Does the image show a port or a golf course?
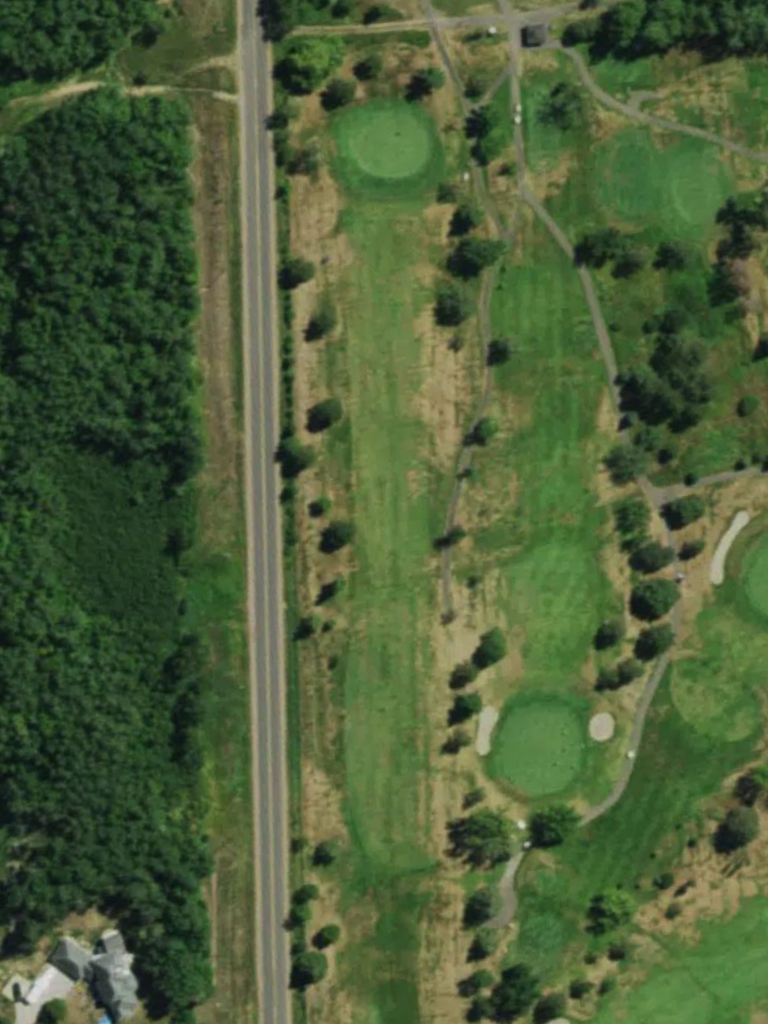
golf course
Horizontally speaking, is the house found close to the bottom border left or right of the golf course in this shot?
to the left of it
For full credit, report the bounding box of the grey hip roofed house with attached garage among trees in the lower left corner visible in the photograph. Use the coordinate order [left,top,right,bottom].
[45,927,144,1024]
